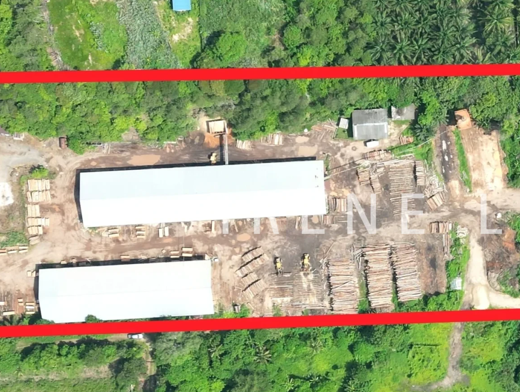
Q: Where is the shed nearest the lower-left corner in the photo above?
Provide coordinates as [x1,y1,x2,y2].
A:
[37,259,218,325]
